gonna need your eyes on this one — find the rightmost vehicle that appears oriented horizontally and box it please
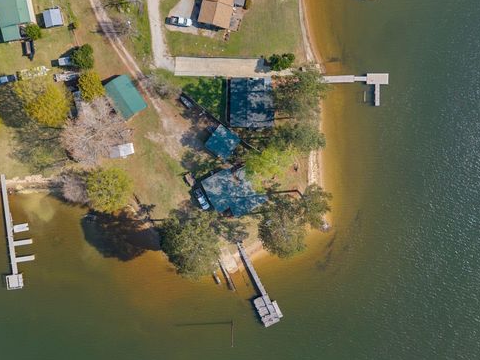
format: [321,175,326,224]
[165,16,194,28]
